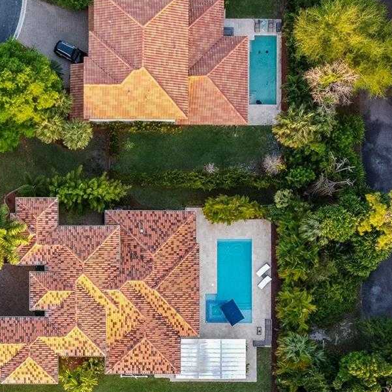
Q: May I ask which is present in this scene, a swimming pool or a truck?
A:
swimming pool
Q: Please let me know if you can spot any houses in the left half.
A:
Yes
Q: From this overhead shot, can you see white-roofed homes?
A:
No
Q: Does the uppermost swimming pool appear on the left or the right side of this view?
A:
right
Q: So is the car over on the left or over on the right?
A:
left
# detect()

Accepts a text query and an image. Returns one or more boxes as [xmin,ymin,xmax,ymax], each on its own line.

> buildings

[70,0,248,125]
[0,197,201,385]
